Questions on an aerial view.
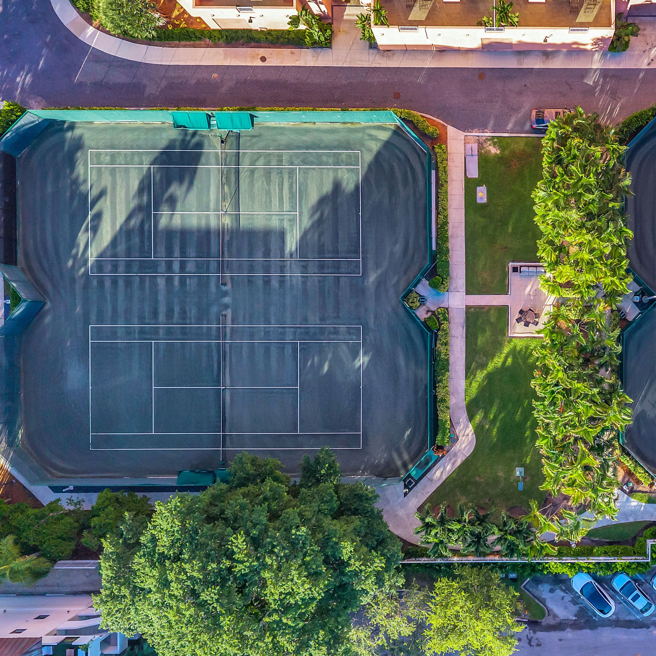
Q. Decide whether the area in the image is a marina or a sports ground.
sports ground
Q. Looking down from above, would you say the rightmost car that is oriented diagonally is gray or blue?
blue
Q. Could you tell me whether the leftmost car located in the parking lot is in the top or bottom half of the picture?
bottom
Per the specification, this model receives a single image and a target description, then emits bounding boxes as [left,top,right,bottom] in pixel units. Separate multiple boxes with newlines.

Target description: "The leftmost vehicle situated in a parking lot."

[571,576,618,623]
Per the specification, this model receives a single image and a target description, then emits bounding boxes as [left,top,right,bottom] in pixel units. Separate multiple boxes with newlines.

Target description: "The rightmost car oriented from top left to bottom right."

[611,575,656,623]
